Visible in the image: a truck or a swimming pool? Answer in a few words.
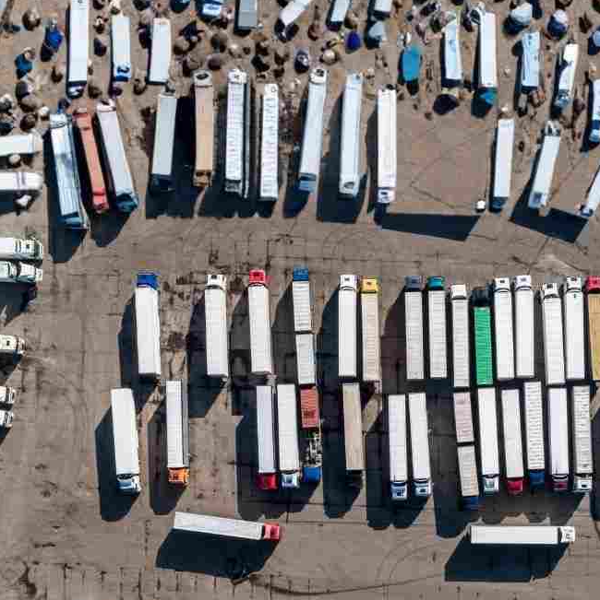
truck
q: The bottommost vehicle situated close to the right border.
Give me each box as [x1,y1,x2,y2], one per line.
[468,525,574,547]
